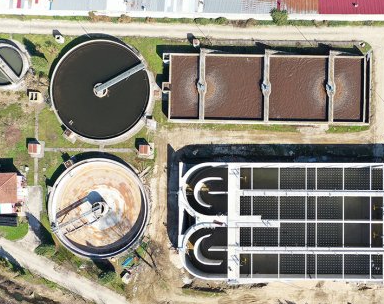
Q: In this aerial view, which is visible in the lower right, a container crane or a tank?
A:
tank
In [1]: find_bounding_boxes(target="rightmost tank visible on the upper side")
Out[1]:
[48,37,161,149]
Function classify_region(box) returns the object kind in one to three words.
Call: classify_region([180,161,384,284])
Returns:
storage tank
